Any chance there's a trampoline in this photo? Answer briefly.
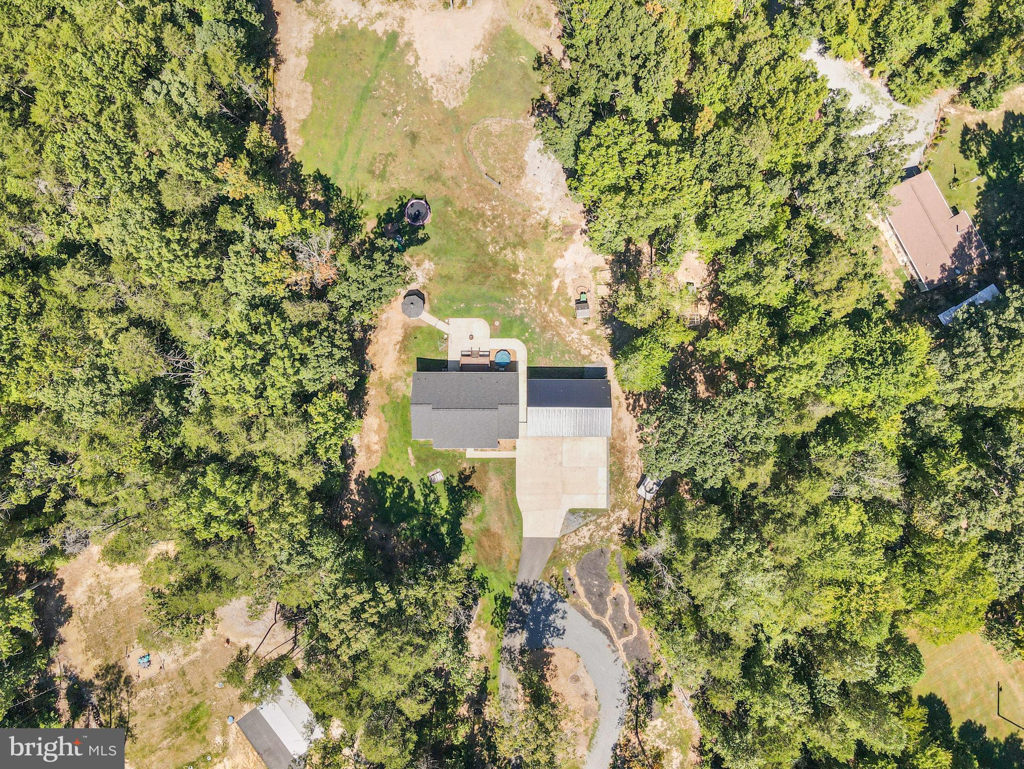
Yes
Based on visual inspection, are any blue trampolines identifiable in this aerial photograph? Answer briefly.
No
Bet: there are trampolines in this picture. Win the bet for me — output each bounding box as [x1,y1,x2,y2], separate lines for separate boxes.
[404,194,430,227]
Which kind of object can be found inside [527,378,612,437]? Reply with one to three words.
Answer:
building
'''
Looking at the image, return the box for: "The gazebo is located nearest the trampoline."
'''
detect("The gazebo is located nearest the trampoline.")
[401,293,427,319]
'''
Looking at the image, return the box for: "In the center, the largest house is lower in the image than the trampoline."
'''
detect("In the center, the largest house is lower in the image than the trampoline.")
[411,371,519,449]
